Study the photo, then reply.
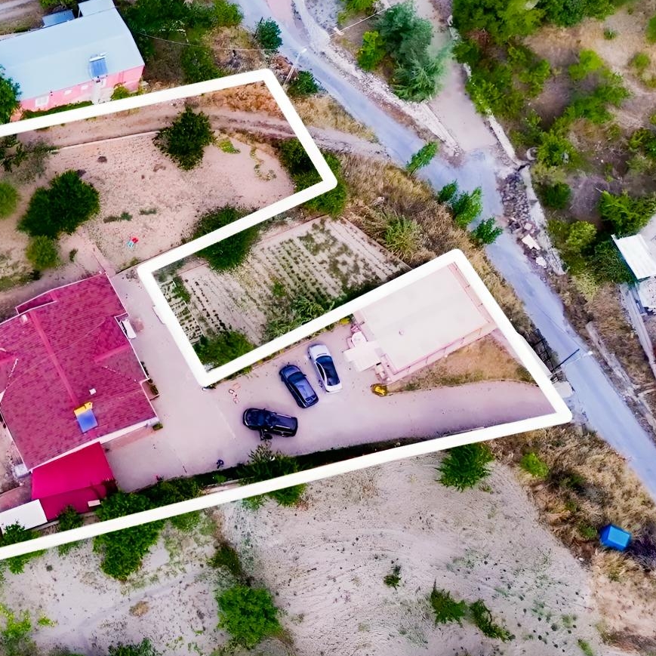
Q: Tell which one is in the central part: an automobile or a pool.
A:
automobile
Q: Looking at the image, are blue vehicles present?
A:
Yes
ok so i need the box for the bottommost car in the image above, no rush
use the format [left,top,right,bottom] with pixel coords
[242,406,300,447]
